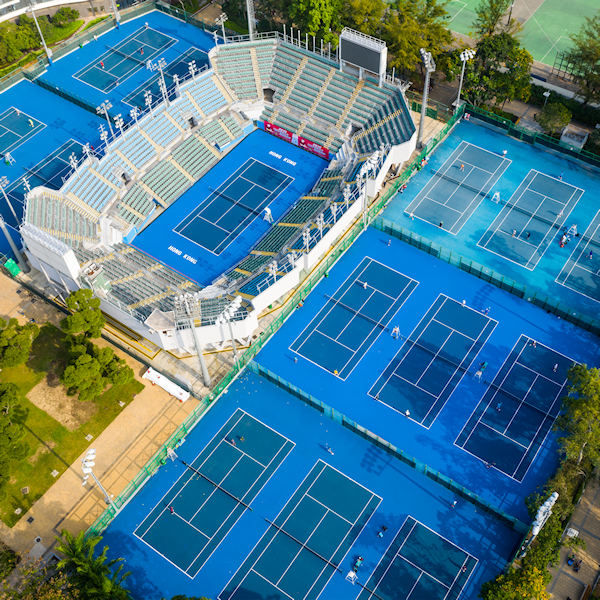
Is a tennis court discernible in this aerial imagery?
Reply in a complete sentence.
Yes, you can see a tennis court in this photo.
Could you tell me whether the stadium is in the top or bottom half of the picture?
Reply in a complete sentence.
Seen from above, the stadium lies in the top half of the view.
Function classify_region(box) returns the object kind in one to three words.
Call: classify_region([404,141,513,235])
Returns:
tennis court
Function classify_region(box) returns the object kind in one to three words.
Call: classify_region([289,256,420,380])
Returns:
tennis court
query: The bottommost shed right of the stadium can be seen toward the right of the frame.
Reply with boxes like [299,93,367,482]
[561,121,593,145]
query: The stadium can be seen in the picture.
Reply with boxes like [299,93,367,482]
[24,29,421,357]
